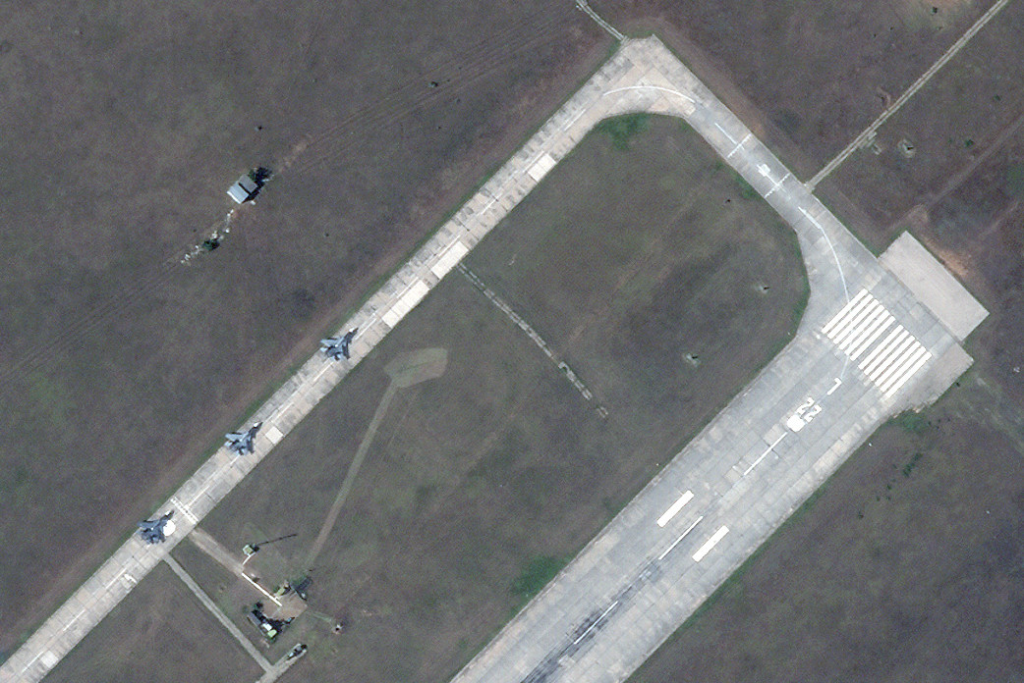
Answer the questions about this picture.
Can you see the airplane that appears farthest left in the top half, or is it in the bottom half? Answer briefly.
bottom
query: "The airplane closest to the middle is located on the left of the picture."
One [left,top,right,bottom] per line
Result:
[318,327,354,364]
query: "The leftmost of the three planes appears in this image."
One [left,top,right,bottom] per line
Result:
[135,511,169,547]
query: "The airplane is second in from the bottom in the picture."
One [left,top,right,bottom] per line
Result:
[221,422,258,460]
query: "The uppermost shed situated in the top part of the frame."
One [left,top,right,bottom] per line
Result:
[227,174,257,204]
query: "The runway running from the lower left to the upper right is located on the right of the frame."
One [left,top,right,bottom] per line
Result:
[452,258,955,683]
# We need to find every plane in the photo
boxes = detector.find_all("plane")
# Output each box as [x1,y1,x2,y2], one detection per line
[135,511,169,547]
[221,422,258,460]
[318,327,354,364]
